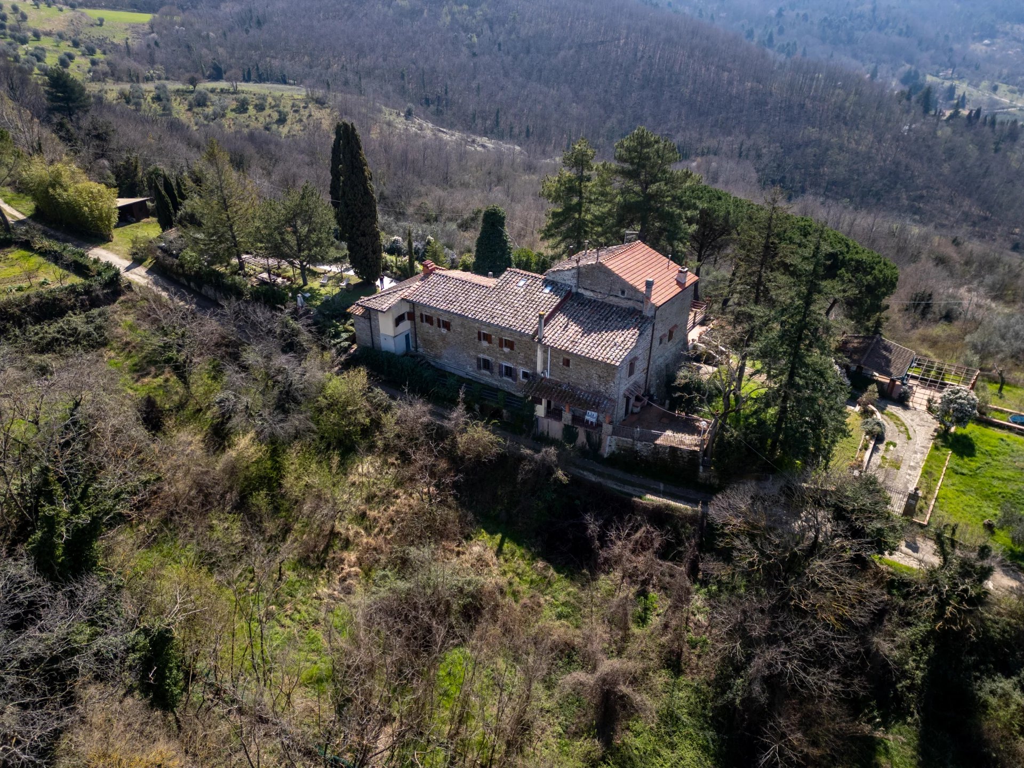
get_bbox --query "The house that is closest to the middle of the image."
[345,231,702,469]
